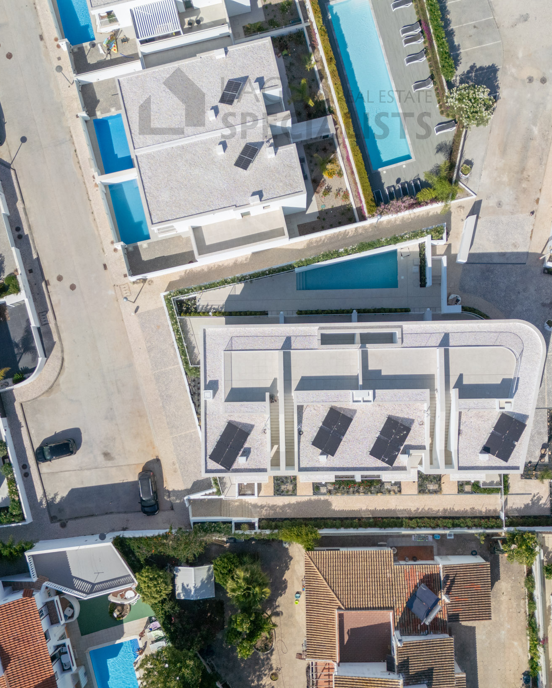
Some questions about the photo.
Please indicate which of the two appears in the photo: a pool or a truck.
pool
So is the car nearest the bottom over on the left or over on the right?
left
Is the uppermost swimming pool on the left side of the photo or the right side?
left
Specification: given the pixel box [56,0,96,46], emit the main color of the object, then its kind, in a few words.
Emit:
blue swimming pool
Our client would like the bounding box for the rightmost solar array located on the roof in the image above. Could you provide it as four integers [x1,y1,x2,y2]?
[479,412,526,462]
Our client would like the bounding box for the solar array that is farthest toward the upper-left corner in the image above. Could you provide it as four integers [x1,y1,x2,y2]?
[220,79,243,108]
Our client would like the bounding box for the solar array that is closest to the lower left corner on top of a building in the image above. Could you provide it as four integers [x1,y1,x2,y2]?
[206,421,249,469]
